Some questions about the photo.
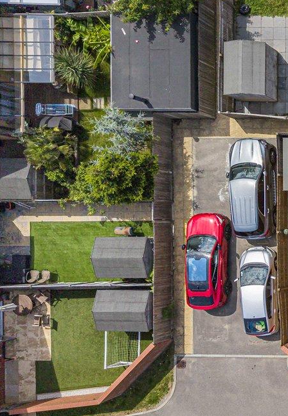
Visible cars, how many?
3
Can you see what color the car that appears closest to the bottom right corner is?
white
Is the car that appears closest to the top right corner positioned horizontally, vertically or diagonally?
vertically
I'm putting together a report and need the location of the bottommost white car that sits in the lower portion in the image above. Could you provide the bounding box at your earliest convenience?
[233,248,276,334]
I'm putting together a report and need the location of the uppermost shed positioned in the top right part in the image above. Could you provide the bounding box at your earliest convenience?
[224,38,277,100]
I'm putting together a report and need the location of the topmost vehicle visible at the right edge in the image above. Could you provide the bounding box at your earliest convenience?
[226,138,276,238]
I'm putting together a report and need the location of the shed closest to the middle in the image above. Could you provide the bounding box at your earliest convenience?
[89,237,154,278]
